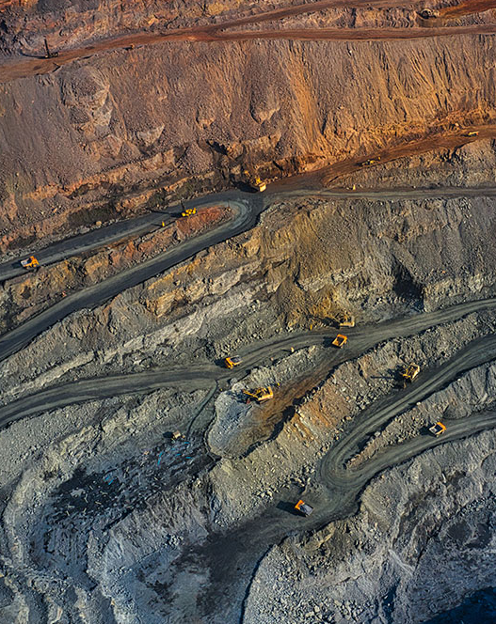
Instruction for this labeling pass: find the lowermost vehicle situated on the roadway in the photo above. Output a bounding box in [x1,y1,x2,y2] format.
[294,500,313,516]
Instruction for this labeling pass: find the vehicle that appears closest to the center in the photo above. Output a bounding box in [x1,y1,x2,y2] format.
[224,354,242,369]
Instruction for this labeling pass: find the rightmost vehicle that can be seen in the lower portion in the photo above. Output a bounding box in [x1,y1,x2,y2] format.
[429,418,448,435]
